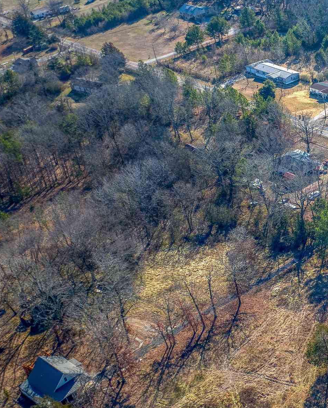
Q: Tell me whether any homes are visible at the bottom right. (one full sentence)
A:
No, no home is visible at the bottom right.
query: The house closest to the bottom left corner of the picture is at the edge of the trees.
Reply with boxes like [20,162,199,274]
[20,356,103,408]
